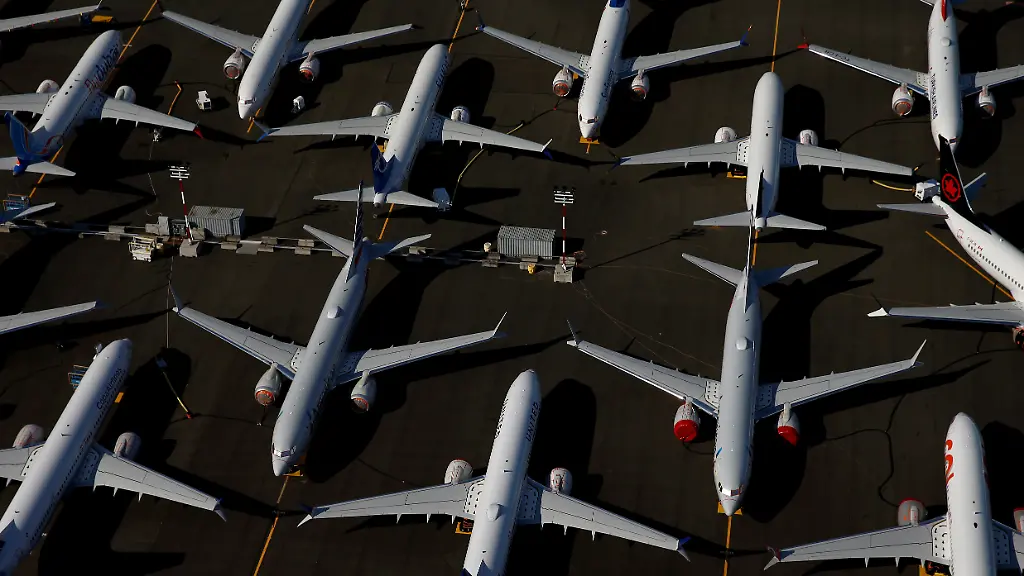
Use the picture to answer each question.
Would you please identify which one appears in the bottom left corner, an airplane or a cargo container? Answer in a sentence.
What appears in the bottom left corner is an airplane.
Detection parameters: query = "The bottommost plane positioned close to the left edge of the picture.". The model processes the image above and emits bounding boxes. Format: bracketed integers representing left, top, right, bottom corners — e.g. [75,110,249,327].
[0,341,224,576]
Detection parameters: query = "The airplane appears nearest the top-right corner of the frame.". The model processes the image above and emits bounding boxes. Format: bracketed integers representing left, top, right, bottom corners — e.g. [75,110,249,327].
[801,0,1024,156]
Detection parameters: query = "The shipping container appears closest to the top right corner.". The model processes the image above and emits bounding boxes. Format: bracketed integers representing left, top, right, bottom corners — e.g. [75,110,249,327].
[499,225,556,260]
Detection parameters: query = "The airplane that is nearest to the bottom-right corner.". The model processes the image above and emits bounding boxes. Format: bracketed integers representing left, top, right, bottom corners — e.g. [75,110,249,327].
[768,414,1024,576]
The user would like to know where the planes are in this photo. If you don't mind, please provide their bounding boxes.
[170,177,507,477]
[868,136,1024,352]
[158,0,423,119]
[297,372,690,576]
[475,0,752,139]
[255,44,553,208]
[608,73,923,232]
[0,31,199,177]
[0,341,224,576]
[0,0,110,56]
[801,0,1024,156]
[567,205,925,517]
[768,414,1024,576]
